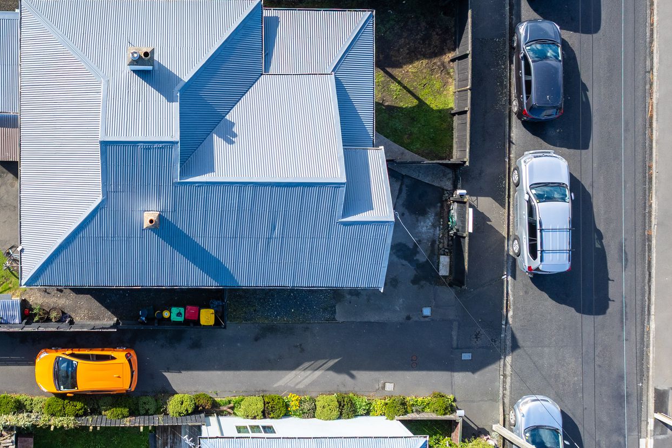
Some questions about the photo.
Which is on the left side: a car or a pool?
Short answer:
car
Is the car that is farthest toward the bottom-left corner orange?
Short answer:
Yes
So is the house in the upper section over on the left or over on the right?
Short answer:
left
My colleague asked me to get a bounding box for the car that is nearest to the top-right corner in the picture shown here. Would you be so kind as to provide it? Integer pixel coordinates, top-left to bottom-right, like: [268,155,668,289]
[506,20,567,122]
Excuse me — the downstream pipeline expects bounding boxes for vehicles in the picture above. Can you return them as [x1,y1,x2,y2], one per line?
[36,344,138,400]
[506,20,567,122]
[504,392,565,448]
[508,152,580,272]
